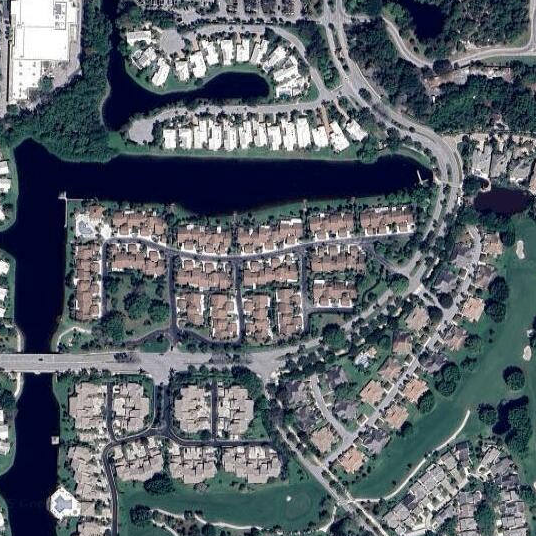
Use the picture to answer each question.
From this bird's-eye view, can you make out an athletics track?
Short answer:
No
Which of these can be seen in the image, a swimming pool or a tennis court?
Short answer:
swimming pool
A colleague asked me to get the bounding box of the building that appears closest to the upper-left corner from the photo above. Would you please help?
[11,0,77,105]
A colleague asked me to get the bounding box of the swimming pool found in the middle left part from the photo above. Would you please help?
[75,214,102,240]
